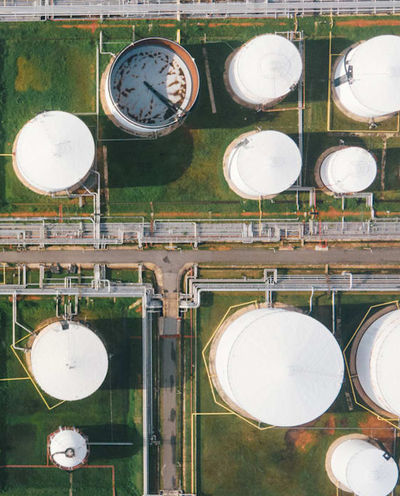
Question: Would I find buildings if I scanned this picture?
No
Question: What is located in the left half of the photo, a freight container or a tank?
tank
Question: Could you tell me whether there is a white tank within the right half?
Yes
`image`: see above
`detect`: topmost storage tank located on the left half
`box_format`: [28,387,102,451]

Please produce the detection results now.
[95,34,202,140]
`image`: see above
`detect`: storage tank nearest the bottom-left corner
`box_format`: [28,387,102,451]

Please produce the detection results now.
[43,425,91,471]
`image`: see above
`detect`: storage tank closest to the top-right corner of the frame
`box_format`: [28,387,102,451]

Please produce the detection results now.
[330,33,400,121]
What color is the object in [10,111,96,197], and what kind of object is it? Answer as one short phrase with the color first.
white storage tank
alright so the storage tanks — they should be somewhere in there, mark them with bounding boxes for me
[95,34,202,140]
[22,315,110,401]
[325,435,399,496]
[209,302,345,428]
[349,303,400,424]
[222,128,303,203]
[43,425,91,471]
[314,143,378,200]
[330,33,400,121]
[10,111,96,197]
[221,31,303,110]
